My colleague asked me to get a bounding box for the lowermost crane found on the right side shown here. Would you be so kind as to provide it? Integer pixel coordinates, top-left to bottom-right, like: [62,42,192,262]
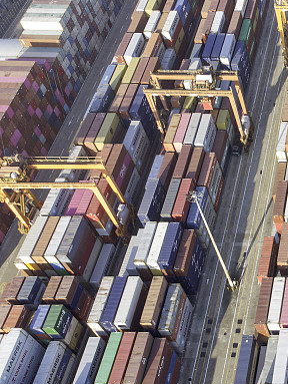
[137,69,254,145]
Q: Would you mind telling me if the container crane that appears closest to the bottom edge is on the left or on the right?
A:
left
